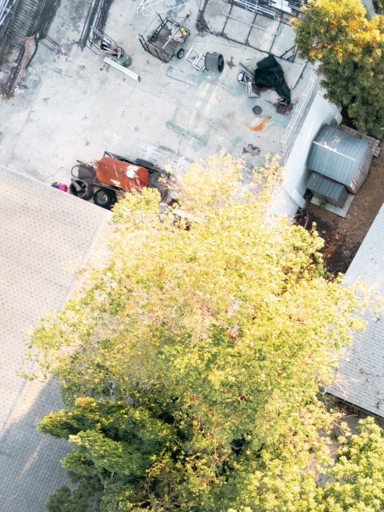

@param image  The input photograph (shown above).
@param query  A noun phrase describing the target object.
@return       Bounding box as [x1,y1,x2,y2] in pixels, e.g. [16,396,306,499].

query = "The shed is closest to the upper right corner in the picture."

[301,106,375,190]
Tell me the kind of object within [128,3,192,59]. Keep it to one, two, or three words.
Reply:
trailer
